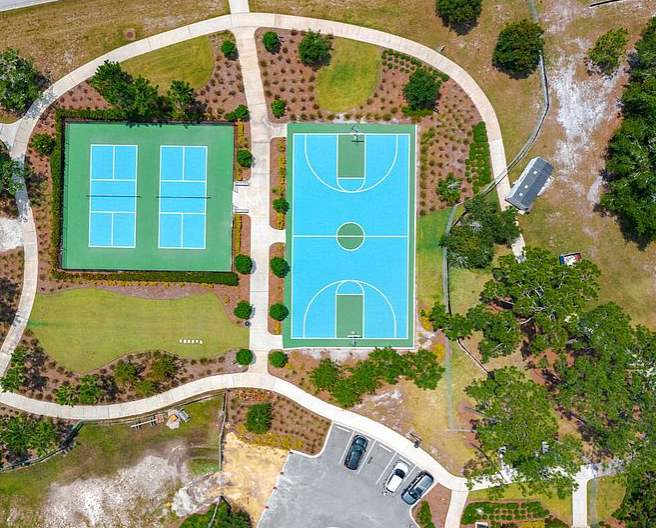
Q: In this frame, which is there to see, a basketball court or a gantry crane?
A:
basketball court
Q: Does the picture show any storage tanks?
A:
No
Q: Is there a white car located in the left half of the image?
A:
No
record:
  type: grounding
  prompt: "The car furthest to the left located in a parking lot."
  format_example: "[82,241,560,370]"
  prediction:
[343,433,366,471]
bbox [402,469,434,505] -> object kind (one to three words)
car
